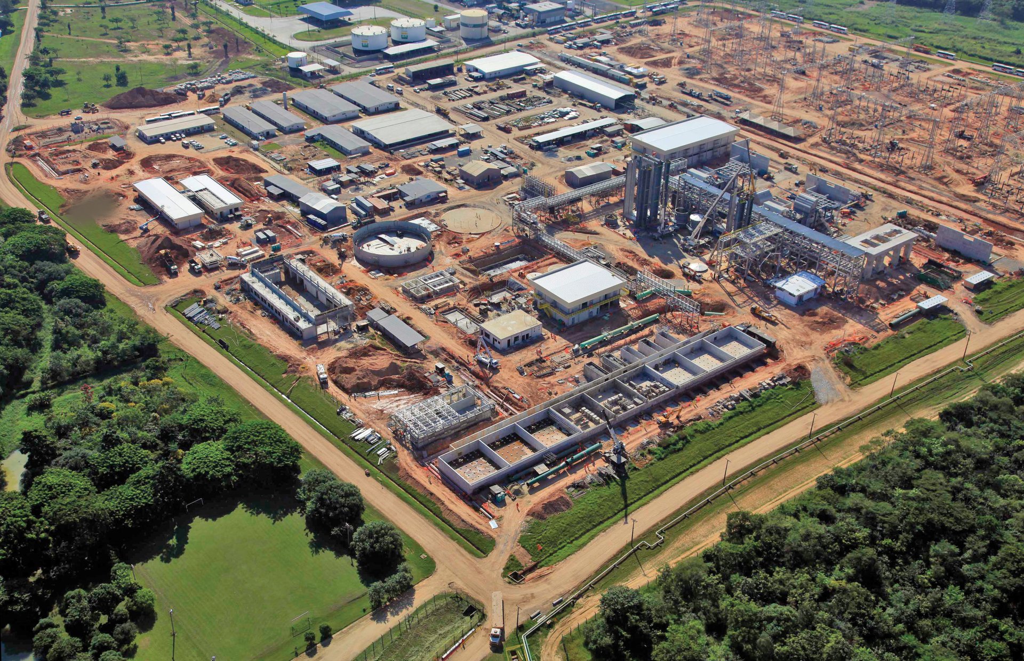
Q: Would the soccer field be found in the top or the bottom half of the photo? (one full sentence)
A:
The soccer field sits in the bottom half of the picture.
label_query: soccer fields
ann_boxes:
[108,489,397,661]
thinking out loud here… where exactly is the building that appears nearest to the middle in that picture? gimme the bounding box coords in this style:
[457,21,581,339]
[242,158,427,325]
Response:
[481,310,541,351]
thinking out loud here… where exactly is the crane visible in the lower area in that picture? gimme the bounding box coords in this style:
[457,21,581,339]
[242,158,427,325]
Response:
[600,410,635,478]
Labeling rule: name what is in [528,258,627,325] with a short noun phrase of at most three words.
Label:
building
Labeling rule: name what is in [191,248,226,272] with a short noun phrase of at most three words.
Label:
house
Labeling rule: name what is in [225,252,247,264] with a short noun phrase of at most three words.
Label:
vehicle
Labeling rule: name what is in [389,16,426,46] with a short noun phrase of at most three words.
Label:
storage tank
